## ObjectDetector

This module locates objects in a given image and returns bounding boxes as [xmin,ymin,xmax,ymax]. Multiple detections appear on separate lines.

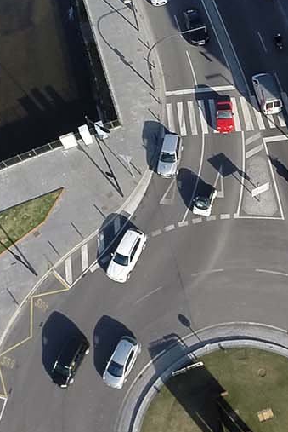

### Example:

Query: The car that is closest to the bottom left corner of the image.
[51,332,92,388]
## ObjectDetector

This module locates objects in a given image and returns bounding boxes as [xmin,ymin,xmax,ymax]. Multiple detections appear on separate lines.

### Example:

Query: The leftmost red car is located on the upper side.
[214,92,236,132]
